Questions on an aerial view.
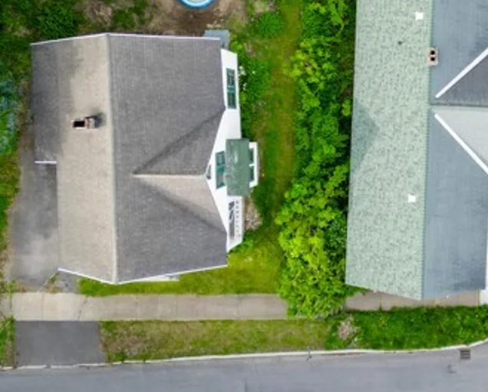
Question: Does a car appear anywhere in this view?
No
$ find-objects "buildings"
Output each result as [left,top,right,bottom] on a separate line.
[345,0,488,299]
[30,29,257,284]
